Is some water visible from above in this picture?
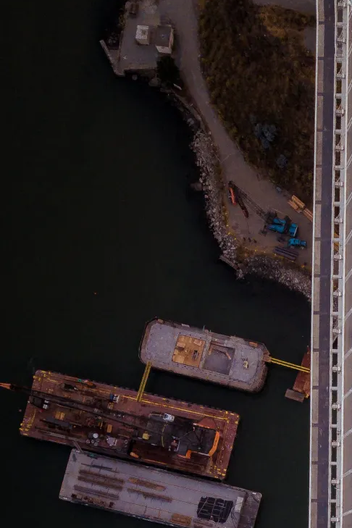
Yes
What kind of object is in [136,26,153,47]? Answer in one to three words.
shed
